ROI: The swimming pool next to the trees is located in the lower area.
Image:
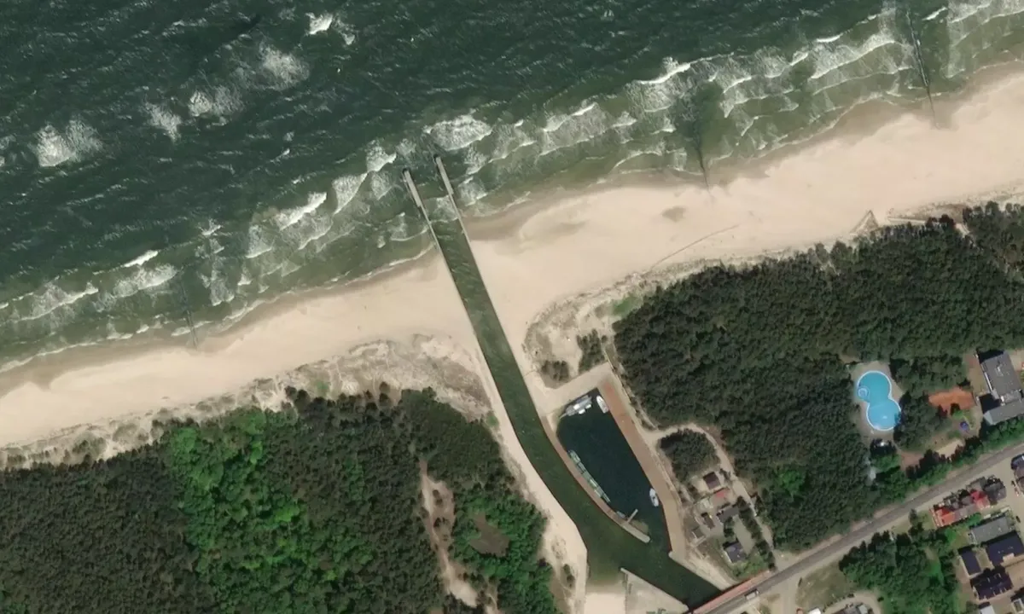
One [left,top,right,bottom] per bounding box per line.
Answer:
[857,370,902,431]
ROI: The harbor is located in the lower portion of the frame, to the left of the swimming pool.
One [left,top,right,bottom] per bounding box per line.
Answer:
[541,364,686,551]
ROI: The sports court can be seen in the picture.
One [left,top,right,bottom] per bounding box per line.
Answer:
[928,388,976,413]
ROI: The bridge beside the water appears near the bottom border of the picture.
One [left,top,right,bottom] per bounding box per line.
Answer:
[688,589,738,614]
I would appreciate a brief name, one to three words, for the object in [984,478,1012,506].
house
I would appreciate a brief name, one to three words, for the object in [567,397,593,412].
boat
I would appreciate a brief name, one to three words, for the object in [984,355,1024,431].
building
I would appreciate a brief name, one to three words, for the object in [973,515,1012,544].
house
